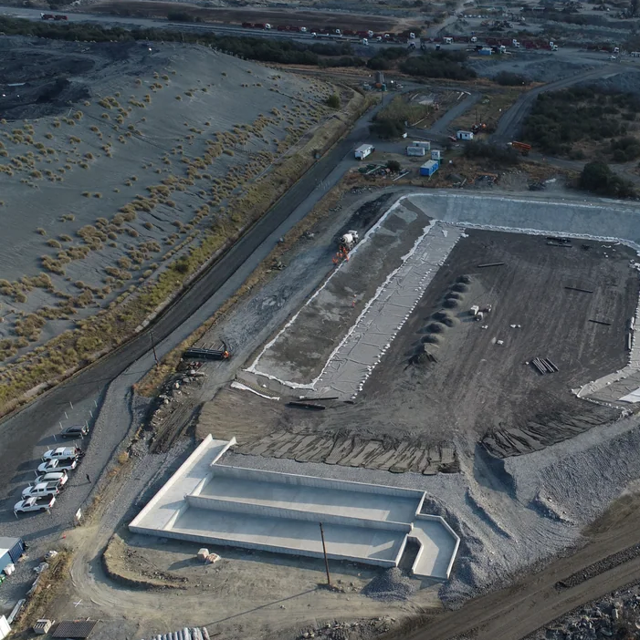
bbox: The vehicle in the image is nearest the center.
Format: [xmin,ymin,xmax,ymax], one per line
[337,229,357,250]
